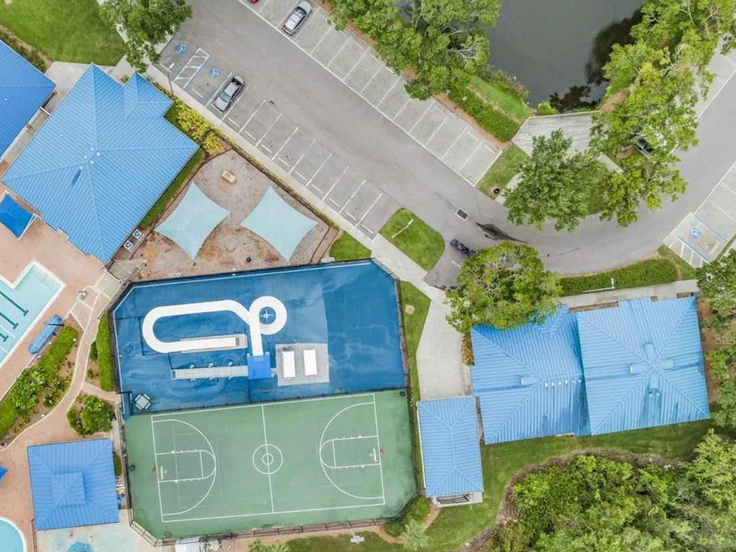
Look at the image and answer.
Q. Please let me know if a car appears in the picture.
Yes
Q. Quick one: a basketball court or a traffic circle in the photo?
basketball court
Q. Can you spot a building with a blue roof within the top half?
Yes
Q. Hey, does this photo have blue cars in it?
No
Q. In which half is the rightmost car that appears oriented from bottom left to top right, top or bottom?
top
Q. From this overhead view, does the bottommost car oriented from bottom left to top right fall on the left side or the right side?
left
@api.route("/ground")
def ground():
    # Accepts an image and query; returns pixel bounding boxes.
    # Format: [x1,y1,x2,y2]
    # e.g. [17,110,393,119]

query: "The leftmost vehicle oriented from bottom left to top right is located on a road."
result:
[213,74,245,113]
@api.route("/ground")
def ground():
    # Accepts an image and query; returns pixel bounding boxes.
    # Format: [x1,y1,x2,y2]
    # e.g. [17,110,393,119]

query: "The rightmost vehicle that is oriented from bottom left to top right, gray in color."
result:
[281,0,313,38]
